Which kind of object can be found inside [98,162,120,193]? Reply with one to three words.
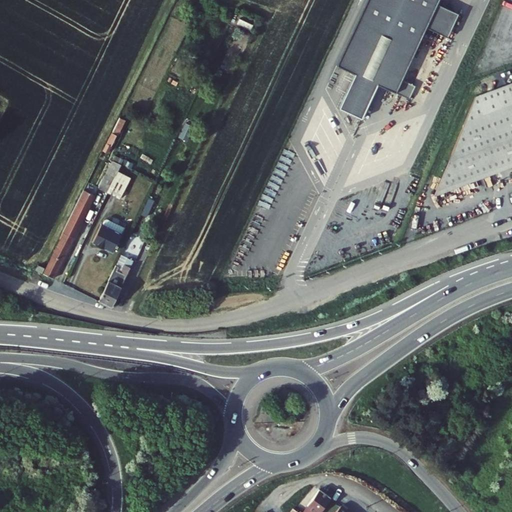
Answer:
shed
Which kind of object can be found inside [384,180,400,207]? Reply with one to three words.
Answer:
vehicle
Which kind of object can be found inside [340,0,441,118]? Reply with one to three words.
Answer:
building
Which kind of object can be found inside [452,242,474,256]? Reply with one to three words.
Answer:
vehicle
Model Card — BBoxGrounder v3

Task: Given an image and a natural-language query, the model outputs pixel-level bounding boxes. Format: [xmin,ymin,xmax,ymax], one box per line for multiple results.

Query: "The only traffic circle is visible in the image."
[224,357,338,472]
